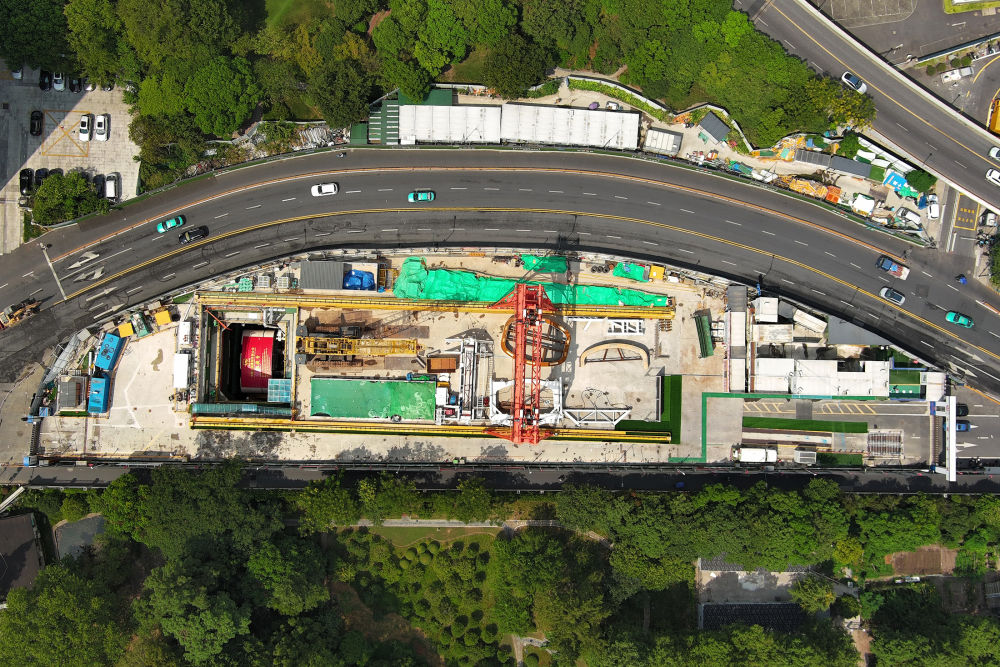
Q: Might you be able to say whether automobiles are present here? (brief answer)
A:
Yes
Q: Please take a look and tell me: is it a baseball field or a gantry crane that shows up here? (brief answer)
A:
gantry crane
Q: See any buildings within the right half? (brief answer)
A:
Yes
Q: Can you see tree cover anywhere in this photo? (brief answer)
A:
Yes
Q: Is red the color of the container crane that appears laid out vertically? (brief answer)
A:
Yes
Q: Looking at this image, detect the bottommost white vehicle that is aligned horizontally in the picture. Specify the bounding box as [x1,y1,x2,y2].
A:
[740,448,779,465]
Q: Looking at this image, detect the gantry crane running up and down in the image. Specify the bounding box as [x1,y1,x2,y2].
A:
[486,283,562,443]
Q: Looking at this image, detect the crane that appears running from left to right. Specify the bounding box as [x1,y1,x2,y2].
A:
[296,325,422,371]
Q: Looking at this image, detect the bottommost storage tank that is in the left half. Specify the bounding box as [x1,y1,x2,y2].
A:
[310,377,437,424]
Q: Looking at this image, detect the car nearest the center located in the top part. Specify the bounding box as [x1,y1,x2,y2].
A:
[407,188,435,201]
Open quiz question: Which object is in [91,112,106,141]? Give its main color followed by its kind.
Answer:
white car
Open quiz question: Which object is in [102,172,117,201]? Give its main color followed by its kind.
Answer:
white vehicle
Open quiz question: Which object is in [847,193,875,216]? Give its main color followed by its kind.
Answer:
white gazebo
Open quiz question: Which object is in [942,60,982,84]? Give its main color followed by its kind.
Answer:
white truck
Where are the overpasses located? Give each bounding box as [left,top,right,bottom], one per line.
[704,0,1000,216]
